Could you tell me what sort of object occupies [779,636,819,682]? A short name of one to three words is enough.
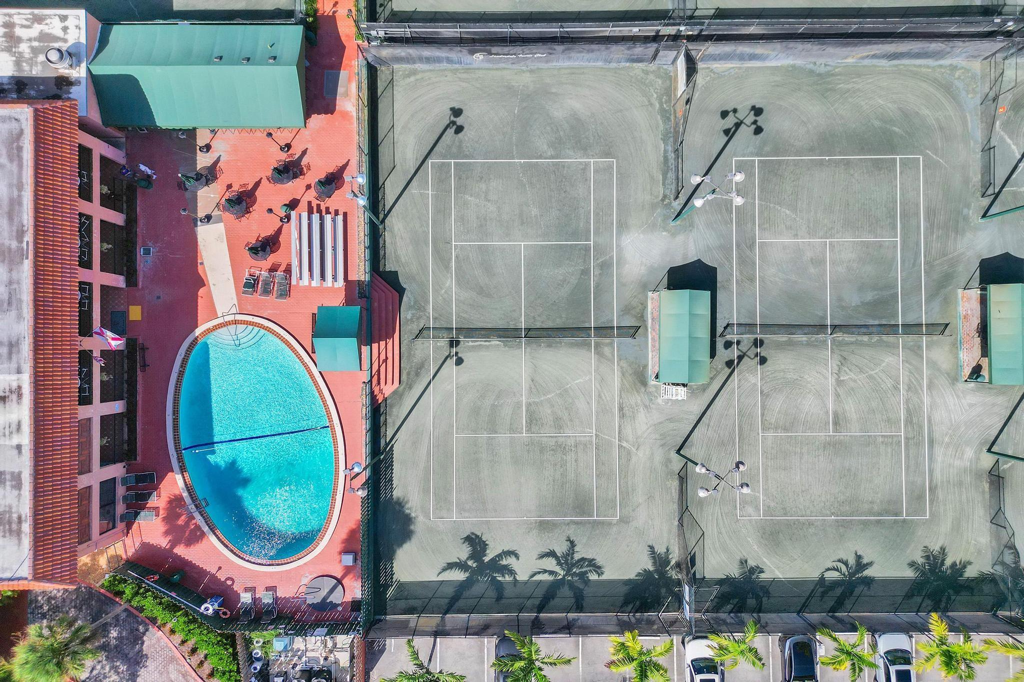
car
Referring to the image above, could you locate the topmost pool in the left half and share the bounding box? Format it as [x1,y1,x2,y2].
[167,314,344,570]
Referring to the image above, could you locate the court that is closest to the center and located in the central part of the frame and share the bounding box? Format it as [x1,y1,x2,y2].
[371,65,673,616]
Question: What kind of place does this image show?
sports ground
